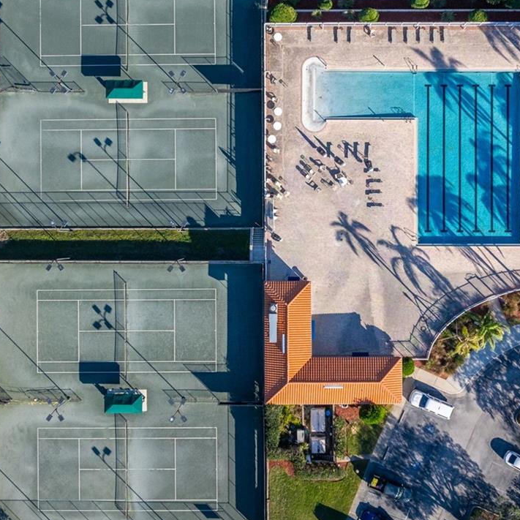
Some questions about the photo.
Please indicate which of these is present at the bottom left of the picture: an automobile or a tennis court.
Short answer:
tennis court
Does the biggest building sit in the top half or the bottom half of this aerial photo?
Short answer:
bottom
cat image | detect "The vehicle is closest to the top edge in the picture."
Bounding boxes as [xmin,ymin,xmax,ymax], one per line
[411,394,453,422]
